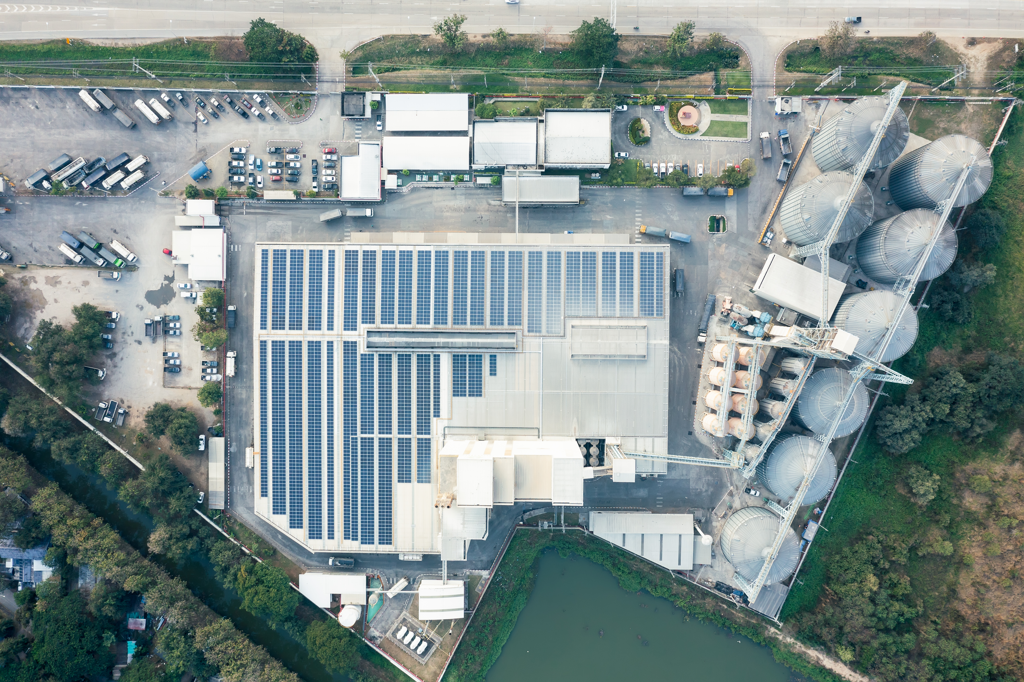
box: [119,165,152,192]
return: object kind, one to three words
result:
truck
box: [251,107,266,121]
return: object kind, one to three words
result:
vehicle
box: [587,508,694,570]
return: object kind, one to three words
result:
shed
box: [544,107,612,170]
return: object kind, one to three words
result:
building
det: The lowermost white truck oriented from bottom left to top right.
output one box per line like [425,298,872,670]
[387,573,413,598]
